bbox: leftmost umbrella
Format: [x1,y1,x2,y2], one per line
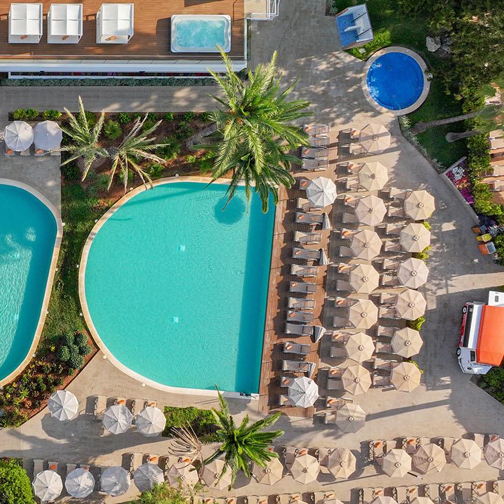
[5,121,34,150]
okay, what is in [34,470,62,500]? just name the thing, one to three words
umbrella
